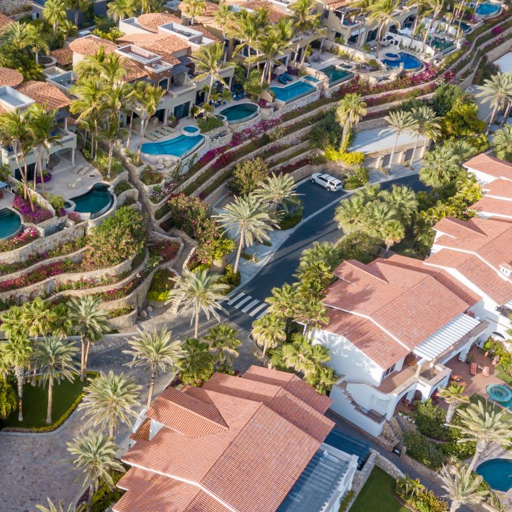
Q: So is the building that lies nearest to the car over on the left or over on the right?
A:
right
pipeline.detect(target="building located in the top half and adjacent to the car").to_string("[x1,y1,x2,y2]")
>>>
[348,126,427,173]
